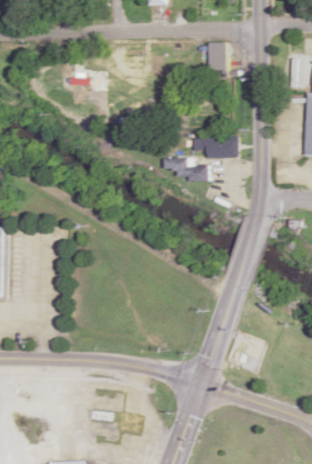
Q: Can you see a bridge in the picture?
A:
Yes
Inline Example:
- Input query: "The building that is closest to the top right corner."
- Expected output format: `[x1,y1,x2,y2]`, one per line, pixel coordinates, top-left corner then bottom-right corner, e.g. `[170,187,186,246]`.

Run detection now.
[291,56,312,88]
